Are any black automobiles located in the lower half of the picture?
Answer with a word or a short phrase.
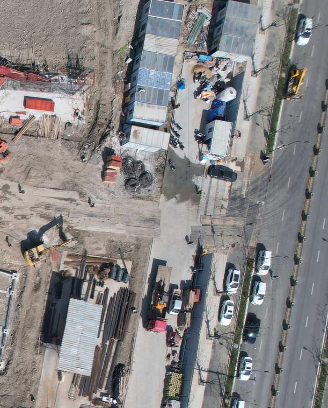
Yes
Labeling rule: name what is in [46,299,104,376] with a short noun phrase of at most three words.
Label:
shed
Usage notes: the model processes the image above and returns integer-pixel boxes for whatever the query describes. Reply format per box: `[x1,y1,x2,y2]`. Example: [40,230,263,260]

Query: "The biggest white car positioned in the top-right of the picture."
[296,17,312,46]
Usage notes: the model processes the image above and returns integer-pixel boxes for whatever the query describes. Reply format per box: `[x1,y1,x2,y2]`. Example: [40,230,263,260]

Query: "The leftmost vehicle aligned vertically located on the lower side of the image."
[147,265,172,330]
